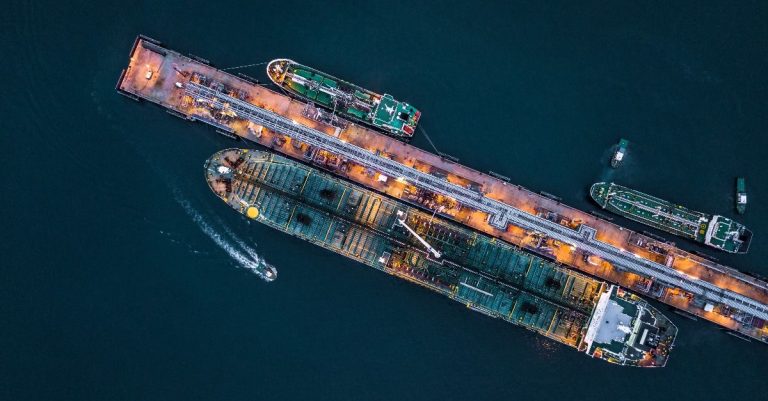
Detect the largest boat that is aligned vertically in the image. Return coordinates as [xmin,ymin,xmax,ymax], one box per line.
[733,177,748,215]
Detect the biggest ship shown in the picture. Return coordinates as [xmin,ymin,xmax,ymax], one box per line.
[203,147,680,367]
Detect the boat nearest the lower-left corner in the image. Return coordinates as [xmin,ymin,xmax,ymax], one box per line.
[256,262,278,279]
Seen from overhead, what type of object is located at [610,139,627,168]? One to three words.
boat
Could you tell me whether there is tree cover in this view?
No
